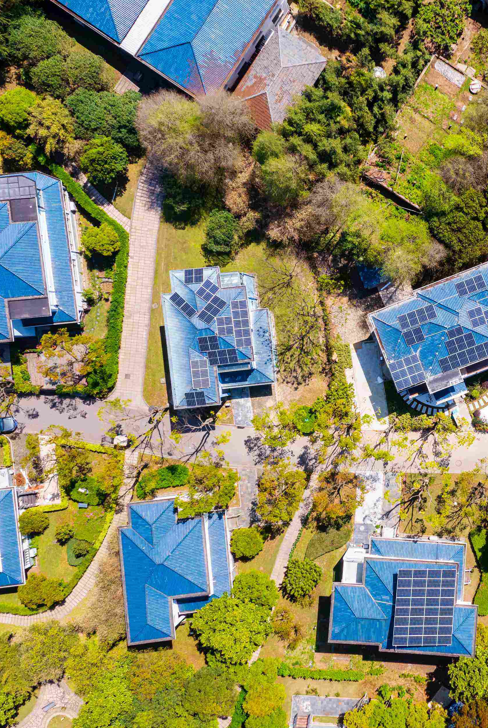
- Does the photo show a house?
Yes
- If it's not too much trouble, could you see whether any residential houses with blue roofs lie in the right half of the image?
Yes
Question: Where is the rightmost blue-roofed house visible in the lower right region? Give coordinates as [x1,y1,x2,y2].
[328,533,479,660]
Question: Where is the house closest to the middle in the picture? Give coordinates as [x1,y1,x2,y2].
[158,265,280,410]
